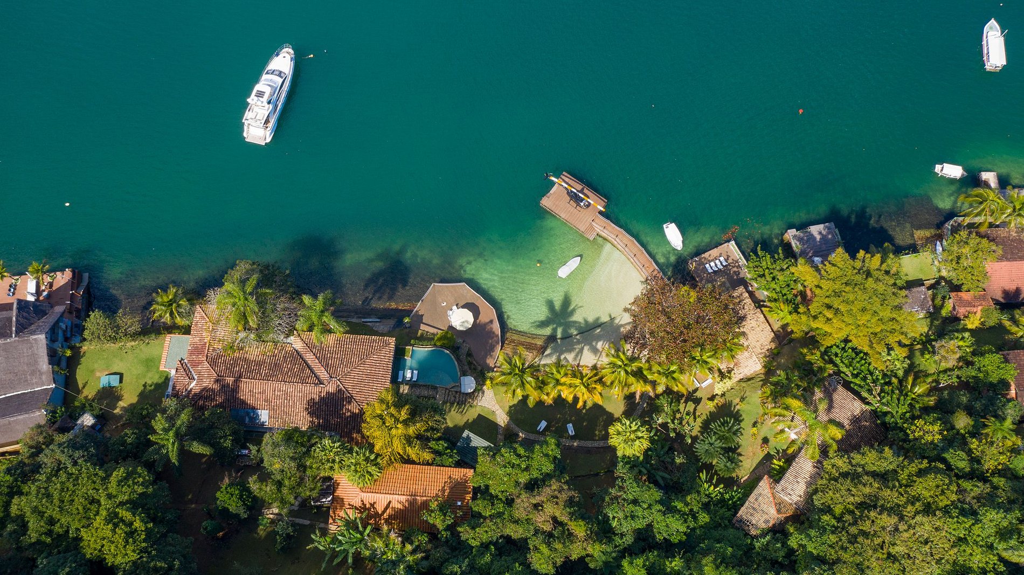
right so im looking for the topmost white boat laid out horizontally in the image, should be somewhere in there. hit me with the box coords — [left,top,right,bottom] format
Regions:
[932,163,970,179]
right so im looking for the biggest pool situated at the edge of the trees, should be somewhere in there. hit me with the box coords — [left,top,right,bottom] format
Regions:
[392,343,465,387]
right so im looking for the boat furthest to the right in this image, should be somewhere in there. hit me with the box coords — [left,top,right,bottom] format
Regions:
[982,18,1015,74]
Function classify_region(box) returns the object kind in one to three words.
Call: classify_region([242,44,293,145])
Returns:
boat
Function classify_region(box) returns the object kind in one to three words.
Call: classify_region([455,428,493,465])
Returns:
shed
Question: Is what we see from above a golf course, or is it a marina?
marina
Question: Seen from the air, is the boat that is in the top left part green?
No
